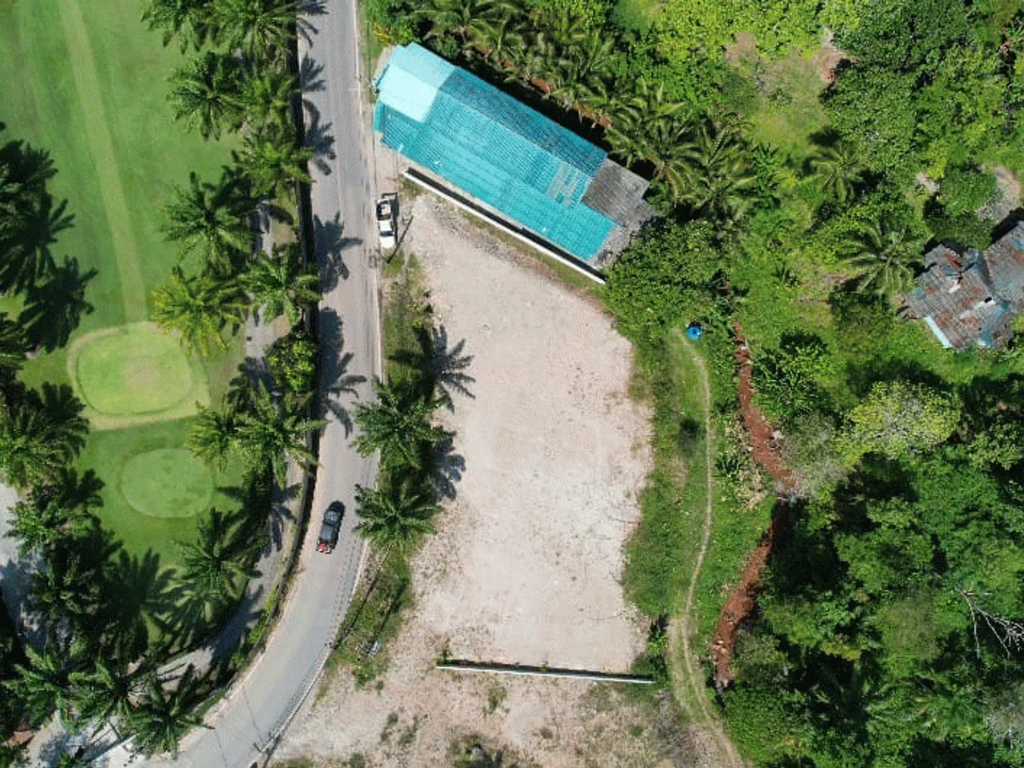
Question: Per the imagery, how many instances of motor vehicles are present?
2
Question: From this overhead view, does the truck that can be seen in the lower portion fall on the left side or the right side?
left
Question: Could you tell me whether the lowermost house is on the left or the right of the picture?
right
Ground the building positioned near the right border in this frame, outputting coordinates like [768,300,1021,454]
[898,218,1024,351]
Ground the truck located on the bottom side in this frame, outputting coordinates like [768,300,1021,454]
[314,498,346,552]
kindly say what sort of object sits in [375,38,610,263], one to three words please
building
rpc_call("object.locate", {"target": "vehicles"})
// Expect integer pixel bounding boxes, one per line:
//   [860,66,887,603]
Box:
[376,198,397,251]
[314,498,346,552]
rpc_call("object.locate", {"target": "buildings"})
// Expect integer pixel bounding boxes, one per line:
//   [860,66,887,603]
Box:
[375,38,610,263]
[898,218,1024,351]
